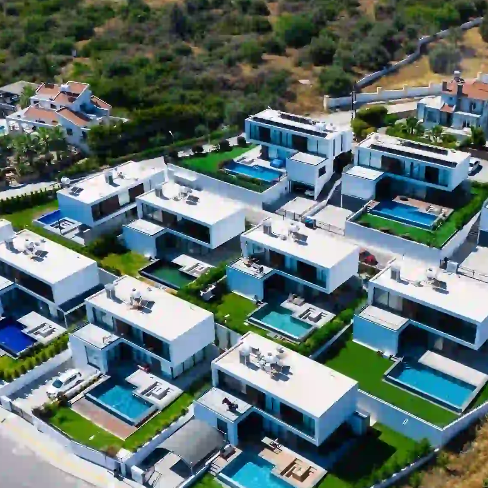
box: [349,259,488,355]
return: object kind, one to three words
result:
house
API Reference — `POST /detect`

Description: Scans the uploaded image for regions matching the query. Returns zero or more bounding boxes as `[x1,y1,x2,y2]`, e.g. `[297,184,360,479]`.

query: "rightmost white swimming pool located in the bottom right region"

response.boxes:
[379,350,488,416]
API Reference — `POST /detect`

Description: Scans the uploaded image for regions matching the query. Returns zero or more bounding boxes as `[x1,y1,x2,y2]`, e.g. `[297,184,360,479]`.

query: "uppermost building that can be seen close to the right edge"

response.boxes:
[412,78,488,132]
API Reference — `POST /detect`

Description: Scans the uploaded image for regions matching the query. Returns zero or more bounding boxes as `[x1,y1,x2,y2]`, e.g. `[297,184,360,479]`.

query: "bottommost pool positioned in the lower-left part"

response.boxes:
[79,368,184,431]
